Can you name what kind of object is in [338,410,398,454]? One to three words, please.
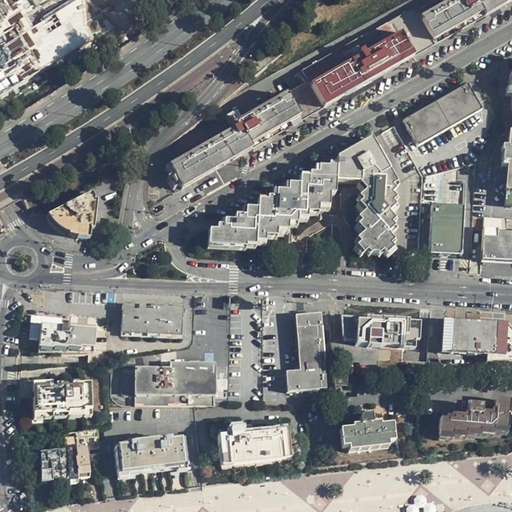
building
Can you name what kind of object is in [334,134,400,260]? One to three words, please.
house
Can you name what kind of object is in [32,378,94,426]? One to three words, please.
house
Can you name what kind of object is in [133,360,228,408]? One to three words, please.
building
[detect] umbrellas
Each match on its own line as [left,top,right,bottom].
[406,503,418,512]
[424,502,436,512]
[414,494,426,506]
